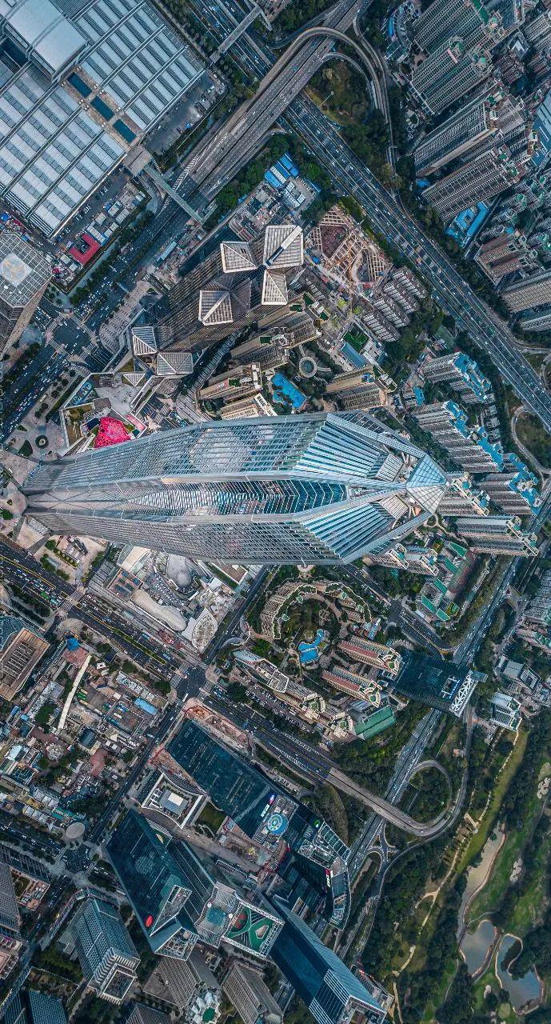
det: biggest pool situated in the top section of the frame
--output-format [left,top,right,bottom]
[269,372,306,407]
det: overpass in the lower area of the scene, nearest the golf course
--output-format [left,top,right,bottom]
[320,762,416,827]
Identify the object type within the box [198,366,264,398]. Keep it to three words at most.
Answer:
building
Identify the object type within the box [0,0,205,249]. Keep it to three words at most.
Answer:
building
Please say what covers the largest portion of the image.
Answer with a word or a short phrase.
buildings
